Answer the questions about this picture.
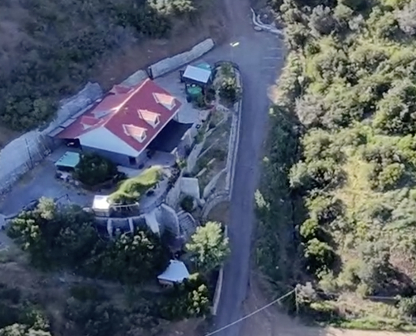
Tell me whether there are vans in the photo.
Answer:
No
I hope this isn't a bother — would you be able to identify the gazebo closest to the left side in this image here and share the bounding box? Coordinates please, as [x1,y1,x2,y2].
[55,151,81,176]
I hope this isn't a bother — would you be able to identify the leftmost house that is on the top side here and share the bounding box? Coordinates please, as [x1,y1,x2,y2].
[60,77,183,167]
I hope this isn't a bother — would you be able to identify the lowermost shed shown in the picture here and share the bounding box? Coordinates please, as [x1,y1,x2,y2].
[162,260,189,288]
